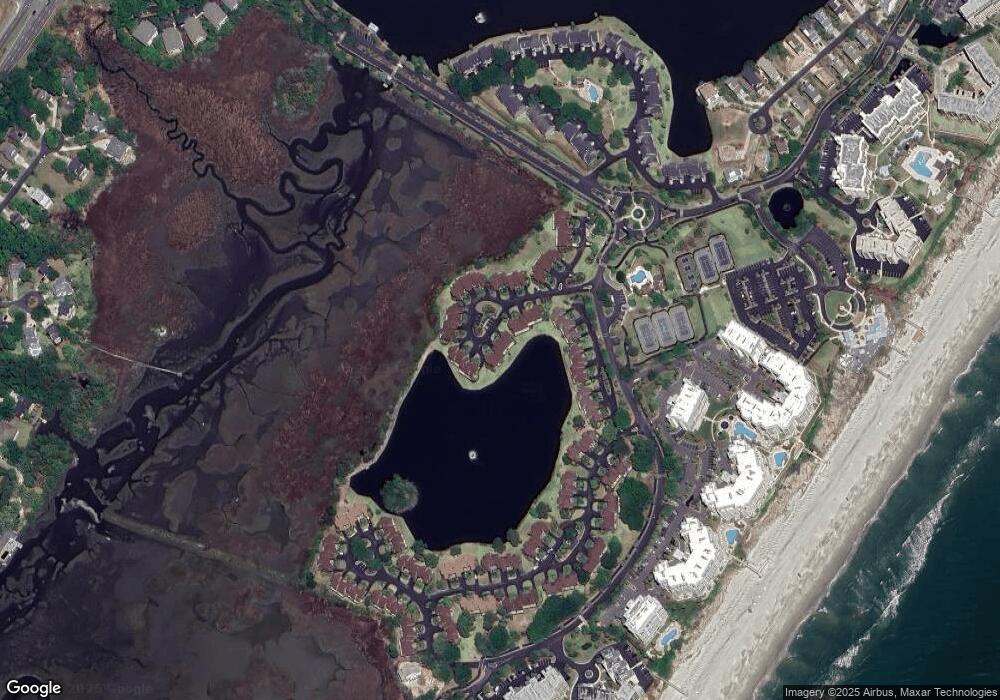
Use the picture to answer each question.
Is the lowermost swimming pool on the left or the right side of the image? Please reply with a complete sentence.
The lowermost swimming pool is on the right side of the image.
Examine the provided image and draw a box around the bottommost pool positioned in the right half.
[655,624,681,655]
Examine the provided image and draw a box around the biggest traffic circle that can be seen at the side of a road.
[615,190,661,236]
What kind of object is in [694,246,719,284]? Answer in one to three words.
tennis court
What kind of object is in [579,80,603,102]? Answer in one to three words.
swimming pool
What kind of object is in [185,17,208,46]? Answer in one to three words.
house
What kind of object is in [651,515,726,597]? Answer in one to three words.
building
